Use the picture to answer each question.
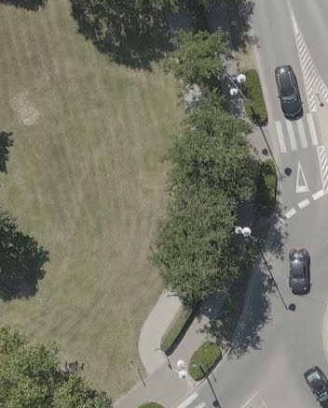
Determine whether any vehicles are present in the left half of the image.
No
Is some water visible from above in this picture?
No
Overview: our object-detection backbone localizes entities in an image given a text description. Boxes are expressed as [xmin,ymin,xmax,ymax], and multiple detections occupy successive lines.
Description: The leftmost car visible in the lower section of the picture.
[287,247,312,295]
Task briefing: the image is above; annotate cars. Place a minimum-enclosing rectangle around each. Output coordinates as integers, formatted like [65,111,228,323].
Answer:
[274,63,305,123]
[302,364,328,408]
[287,247,312,295]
